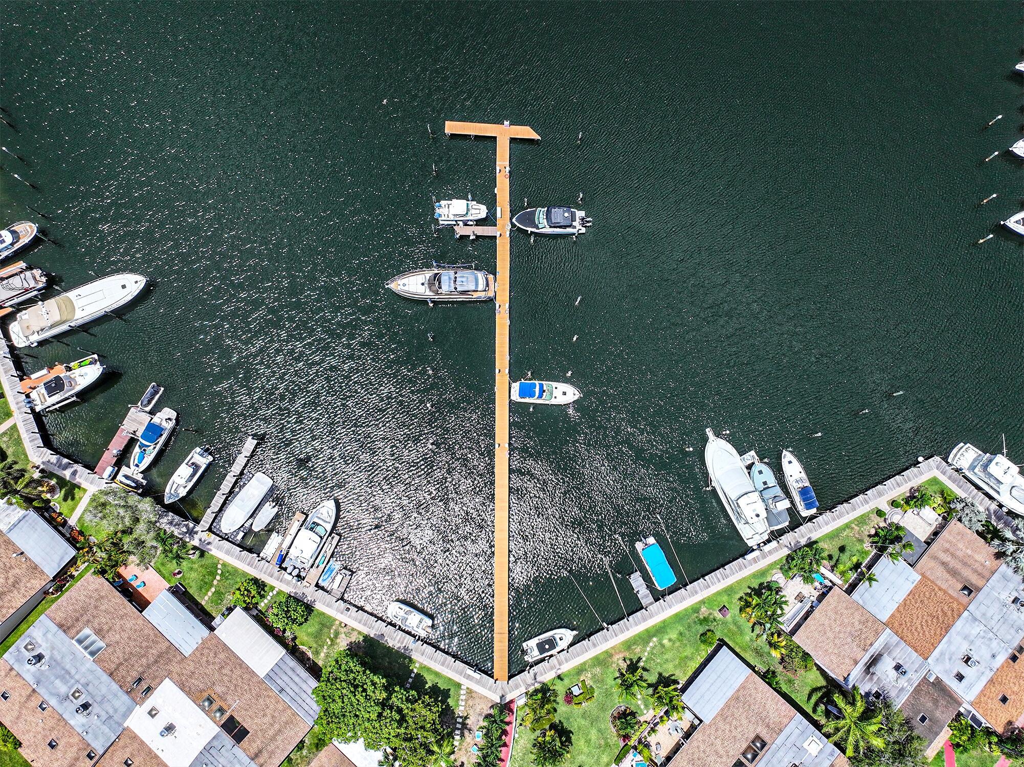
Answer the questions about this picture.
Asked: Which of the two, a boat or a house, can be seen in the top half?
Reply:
boat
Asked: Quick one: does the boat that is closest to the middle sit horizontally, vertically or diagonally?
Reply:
horizontally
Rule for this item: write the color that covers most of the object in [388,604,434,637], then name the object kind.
white boat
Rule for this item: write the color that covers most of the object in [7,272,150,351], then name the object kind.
white boat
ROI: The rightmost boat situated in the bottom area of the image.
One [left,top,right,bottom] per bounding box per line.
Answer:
[945,441,1024,510]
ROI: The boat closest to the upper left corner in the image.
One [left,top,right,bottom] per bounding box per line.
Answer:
[0,225,42,261]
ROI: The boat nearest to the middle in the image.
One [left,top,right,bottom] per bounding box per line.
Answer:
[509,381,582,406]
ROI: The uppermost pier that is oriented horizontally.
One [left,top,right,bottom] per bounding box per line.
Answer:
[453,225,496,240]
